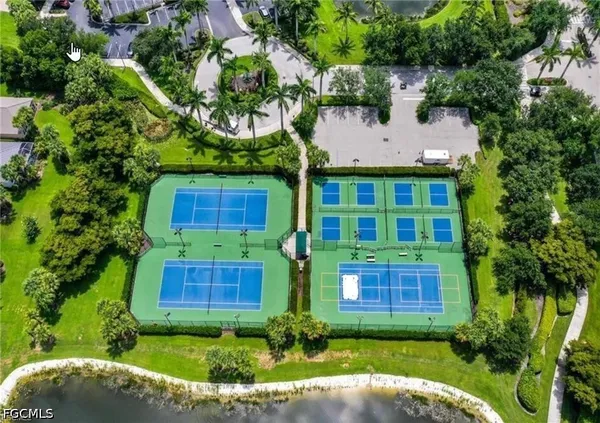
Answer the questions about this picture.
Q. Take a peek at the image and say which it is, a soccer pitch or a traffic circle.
traffic circle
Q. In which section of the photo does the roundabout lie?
top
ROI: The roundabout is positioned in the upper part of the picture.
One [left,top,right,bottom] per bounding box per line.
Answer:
[201,45,290,128]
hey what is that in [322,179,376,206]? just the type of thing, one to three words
sports court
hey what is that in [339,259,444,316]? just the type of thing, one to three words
tennis court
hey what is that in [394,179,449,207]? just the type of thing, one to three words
sports court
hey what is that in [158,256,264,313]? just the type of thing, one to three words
tennis court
